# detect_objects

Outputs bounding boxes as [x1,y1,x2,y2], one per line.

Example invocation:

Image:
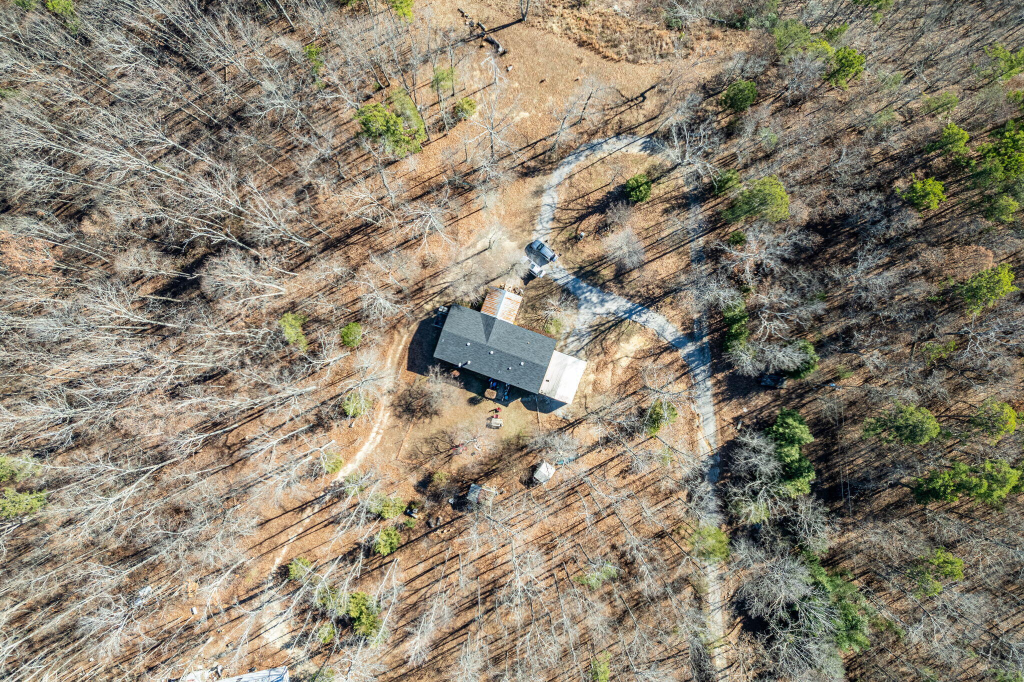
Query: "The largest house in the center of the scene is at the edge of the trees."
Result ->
[434,286,557,393]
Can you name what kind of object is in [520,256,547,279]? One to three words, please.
car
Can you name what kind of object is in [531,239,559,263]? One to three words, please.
car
